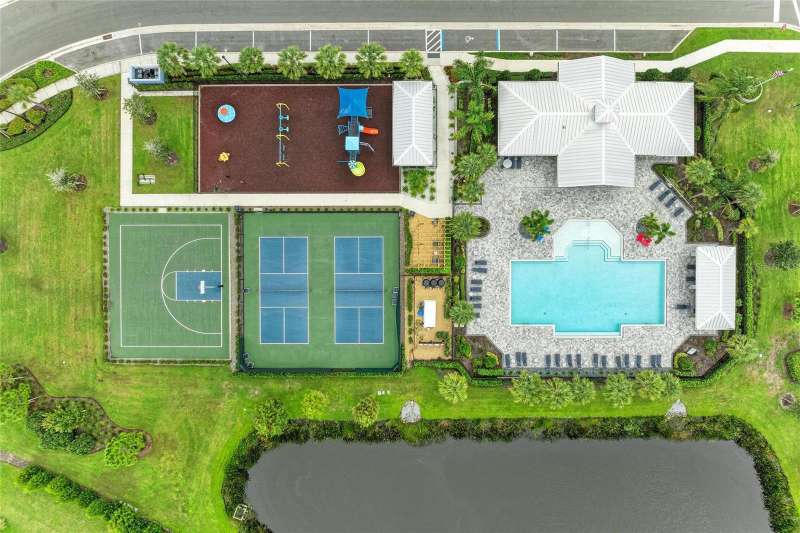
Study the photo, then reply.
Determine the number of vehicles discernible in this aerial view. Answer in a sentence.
There are no vehicles in this view.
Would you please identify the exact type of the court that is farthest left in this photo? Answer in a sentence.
In the photo, the court that is farthest left shows up as a basketball court.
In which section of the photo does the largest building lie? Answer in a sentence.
The largest building appears toward the top right of the photo.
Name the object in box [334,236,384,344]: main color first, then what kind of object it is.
blue sports court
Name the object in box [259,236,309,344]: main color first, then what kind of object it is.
blue sports court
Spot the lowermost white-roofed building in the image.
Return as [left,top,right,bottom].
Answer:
[685,245,736,332]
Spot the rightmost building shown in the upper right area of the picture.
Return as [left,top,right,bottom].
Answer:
[497,53,695,188]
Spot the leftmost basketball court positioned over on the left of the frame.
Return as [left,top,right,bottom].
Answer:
[108,212,229,360]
